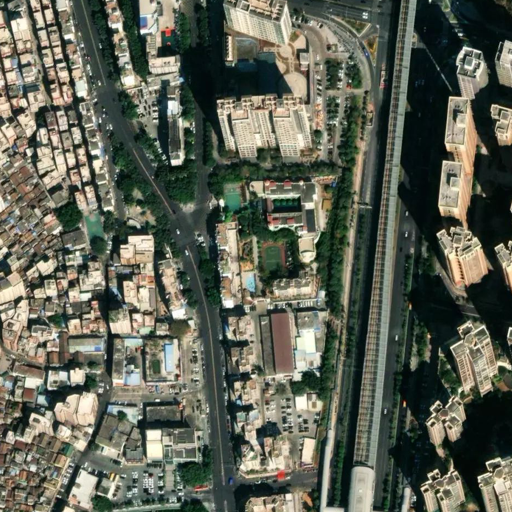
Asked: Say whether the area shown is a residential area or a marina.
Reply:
residential area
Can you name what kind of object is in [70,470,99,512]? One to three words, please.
building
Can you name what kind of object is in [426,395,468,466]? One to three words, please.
building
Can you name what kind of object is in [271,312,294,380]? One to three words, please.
house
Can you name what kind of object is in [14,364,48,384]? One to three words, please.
house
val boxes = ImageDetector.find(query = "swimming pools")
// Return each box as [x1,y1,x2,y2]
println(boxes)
[241,272,258,294]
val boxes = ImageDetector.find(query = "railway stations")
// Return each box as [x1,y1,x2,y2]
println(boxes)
[346,466,376,512]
